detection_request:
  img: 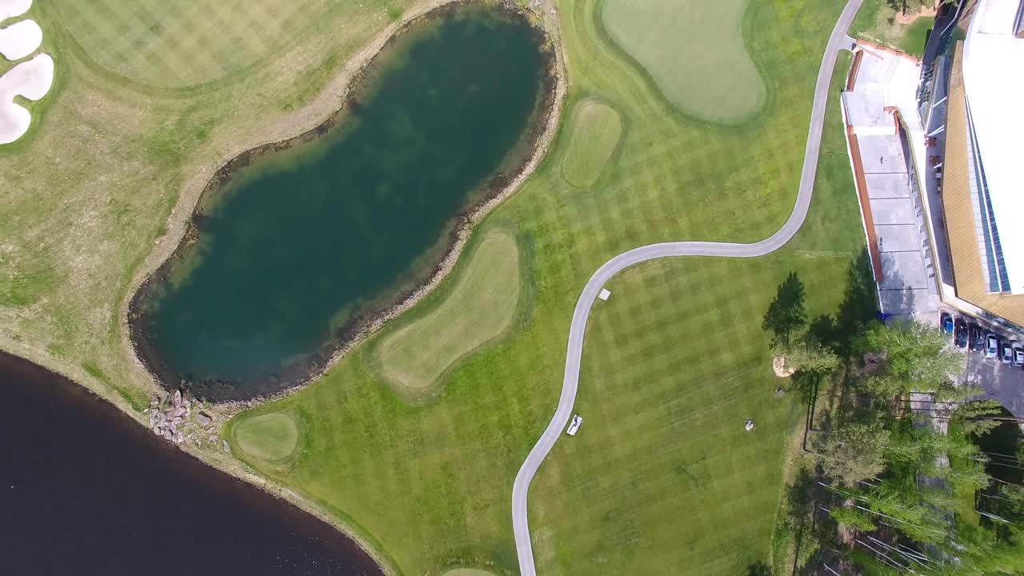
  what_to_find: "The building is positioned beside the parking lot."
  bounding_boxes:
[839,0,1024,349]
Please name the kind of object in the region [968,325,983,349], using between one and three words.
car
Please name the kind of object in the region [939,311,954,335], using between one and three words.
car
